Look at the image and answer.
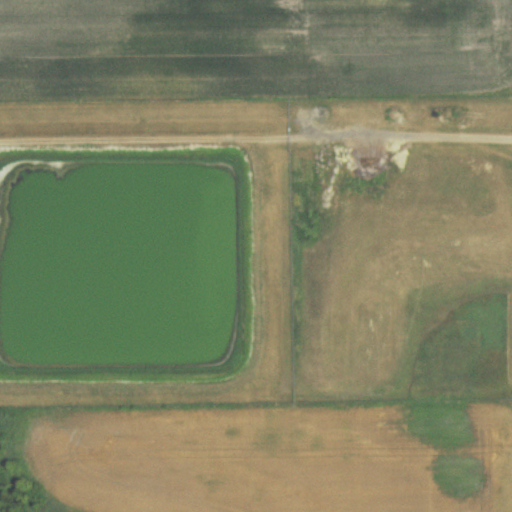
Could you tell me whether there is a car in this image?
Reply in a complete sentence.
No, no car is visible in the view.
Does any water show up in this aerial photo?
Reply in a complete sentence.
Yes, water can be seen from above here.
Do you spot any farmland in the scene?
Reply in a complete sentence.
Yes, there is farmland in the image.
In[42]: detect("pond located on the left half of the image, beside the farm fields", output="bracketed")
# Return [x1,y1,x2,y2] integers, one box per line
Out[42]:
[0,162,238,367]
